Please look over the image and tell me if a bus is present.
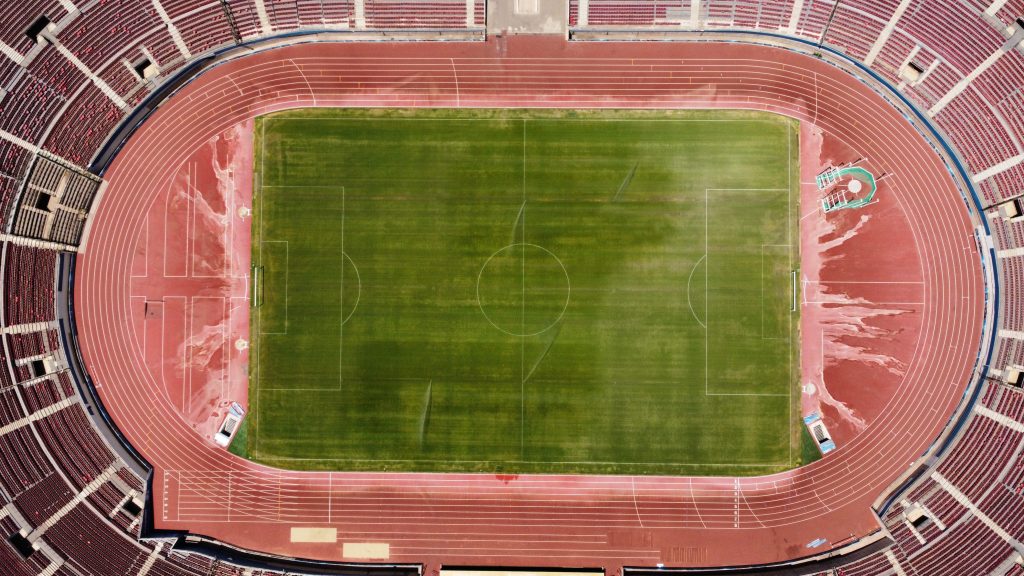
No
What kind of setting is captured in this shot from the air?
sports ground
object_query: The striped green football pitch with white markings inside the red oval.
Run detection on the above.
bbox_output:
[228,107,823,477]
